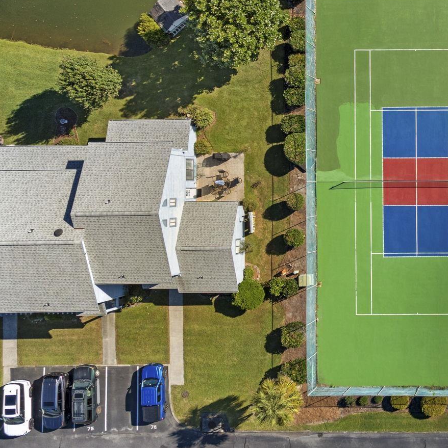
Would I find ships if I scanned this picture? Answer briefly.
No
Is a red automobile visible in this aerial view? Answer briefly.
No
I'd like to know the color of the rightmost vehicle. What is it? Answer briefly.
blue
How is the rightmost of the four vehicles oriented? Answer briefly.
from top to bottom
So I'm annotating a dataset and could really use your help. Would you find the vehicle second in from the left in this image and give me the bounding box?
[41,370,71,427]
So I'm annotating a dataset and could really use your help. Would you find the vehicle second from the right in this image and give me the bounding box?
[70,364,102,422]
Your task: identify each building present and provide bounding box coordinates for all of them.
[0,119,245,313]
[149,0,201,46]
